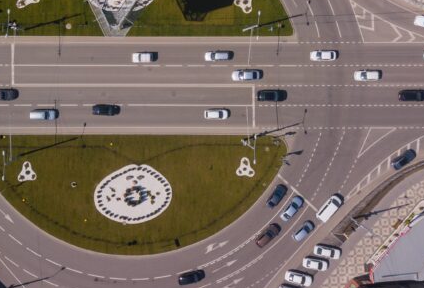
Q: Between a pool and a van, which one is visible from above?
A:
van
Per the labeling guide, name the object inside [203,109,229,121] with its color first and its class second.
white vehicle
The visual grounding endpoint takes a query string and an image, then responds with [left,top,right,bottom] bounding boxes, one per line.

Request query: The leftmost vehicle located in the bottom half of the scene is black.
[177,268,206,286]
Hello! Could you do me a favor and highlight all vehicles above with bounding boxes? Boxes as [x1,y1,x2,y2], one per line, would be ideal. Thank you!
[302,256,329,272]
[389,147,417,171]
[203,109,229,121]
[266,184,288,208]
[92,104,119,116]
[313,244,343,260]
[413,14,424,27]
[315,194,345,224]
[281,195,305,222]
[177,268,206,286]
[353,69,381,82]
[398,88,424,102]
[205,50,230,62]
[233,69,260,82]
[257,89,286,102]
[30,108,59,121]
[131,52,157,64]
[0,88,17,101]
[293,219,316,242]
[284,269,312,286]
[311,50,335,62]
[256,223,281,249]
